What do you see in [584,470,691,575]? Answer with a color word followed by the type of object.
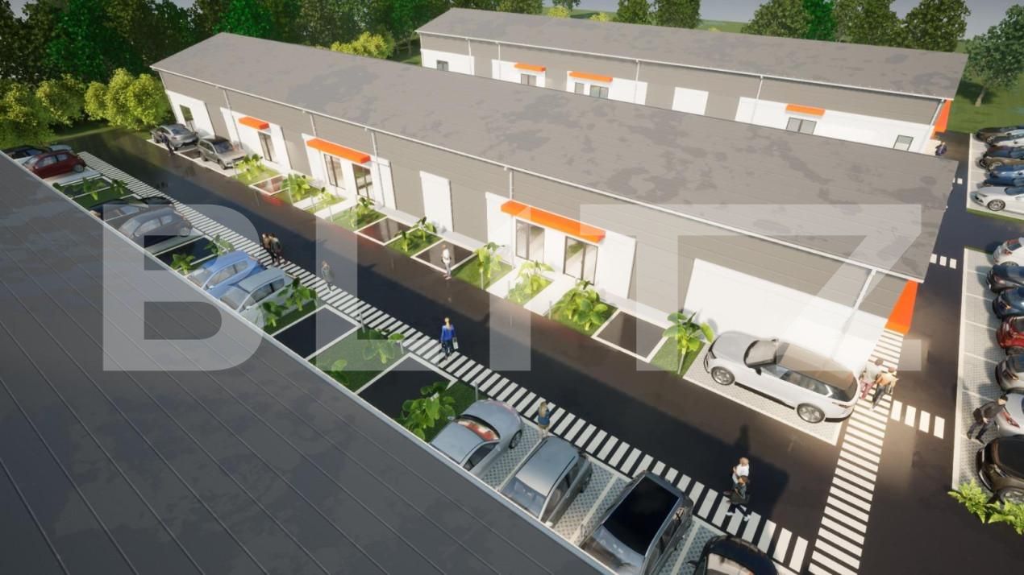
black car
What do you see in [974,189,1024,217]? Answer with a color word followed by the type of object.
white car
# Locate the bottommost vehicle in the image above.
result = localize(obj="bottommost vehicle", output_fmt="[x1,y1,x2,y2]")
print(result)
[696,537,784,575]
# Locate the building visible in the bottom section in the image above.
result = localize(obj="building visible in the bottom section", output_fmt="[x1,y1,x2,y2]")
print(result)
[0,148,632,575]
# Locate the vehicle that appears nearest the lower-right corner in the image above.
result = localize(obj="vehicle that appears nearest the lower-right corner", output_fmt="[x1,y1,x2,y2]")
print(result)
[978,434,1024,501]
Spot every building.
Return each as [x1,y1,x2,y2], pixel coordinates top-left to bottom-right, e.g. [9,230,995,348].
[0,148,632,575]
[151,32,960,377]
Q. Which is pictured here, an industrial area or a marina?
industrial area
